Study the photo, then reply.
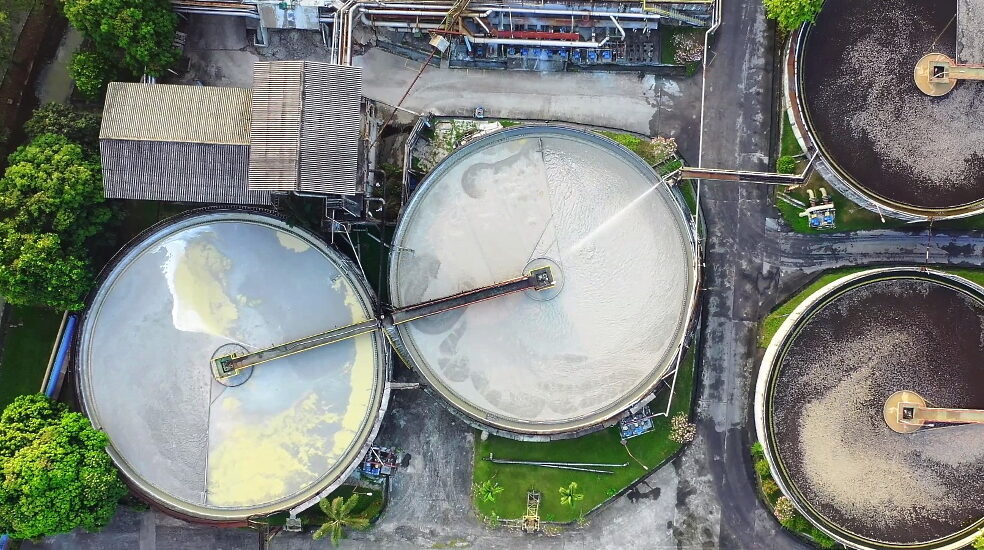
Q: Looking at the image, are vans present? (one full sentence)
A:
No, I find no van anywhere in the image.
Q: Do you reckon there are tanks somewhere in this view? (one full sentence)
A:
Yes, looking at the shot, I can spot a tank.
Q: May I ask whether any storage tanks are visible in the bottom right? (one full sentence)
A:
Yes, the scene does show a storage tank in the bottom right.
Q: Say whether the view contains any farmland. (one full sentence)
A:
No, the scene doesn't show any farmland.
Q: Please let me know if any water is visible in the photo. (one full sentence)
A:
Yes, there is water in the image.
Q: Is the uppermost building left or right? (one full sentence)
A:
You can find the uppermost building on the left side of the picture.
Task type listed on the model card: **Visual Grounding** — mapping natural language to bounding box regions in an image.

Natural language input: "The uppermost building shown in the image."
[254,0,325,52]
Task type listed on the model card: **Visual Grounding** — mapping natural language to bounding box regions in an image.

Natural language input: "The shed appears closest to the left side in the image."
[99,82,273,205]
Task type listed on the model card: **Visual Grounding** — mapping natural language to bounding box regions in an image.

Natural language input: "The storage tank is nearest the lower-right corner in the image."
[755,266,984,550]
